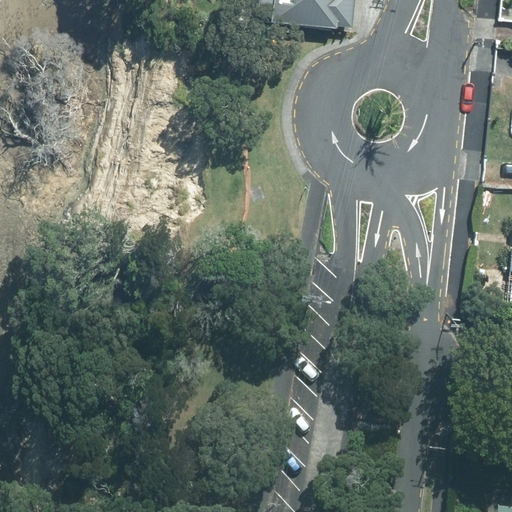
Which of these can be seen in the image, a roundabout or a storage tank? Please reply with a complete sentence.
It is a roundabout that can be seen here.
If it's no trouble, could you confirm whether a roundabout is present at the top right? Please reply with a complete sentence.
Yes, there is a roundabout at the top right.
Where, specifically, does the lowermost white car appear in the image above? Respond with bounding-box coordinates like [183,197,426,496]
[290,408,311,436]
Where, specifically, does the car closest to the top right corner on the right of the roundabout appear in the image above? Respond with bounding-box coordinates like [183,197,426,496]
[460,84,474,113]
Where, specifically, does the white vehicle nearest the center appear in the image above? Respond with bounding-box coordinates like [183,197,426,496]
[296,358,320,382]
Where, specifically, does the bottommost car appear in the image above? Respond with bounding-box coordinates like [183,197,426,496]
[284,453,306,478]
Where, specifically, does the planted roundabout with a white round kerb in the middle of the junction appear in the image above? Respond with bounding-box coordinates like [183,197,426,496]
[332,88,428,162]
